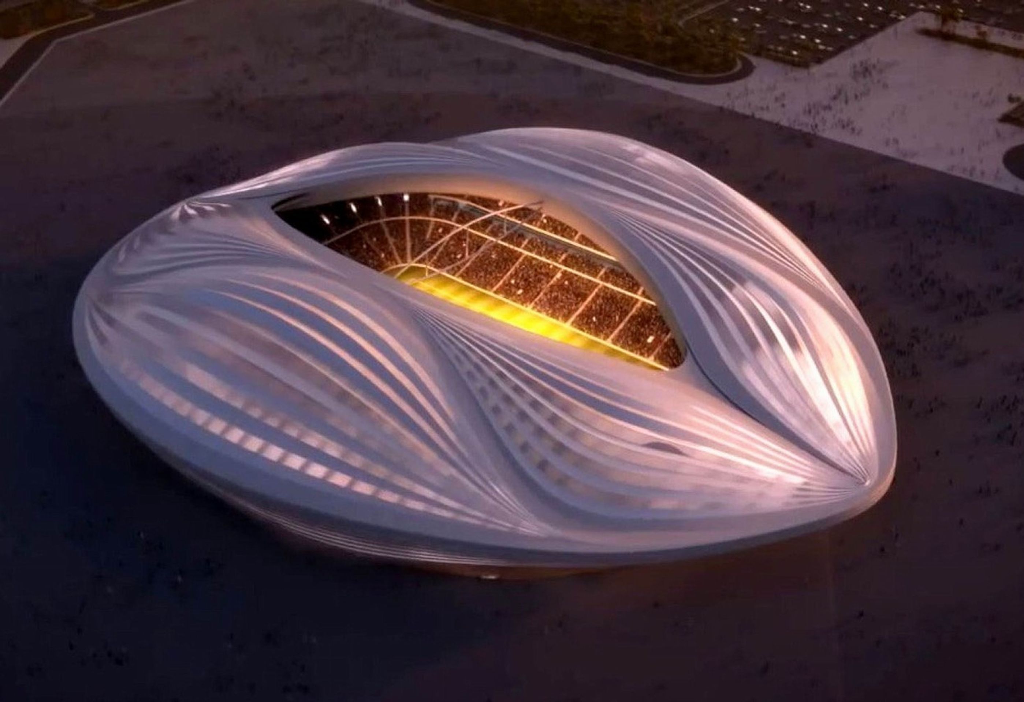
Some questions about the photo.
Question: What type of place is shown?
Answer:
sports ground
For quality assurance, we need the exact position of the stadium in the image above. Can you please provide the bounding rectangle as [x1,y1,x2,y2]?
[73,129,897,581]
